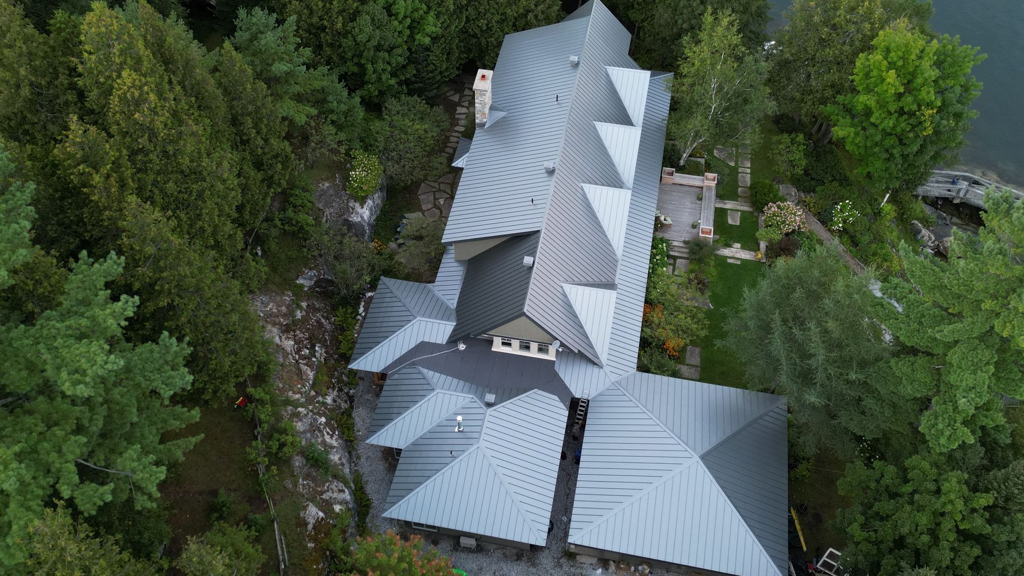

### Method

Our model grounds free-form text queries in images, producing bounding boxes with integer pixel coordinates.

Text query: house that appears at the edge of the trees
[347,0,789,576]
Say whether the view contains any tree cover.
Yes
